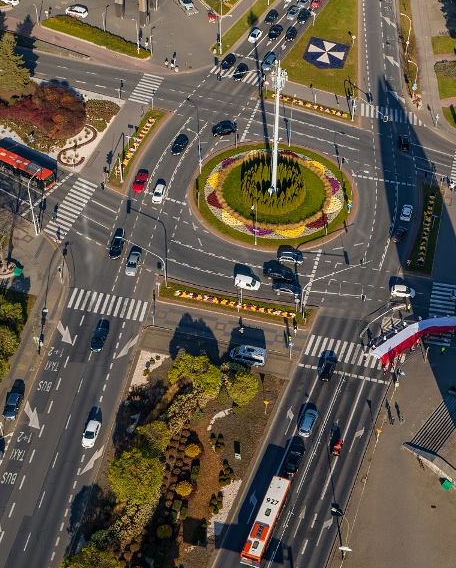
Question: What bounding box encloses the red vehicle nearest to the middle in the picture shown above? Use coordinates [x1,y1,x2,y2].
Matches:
[133,171,148,193]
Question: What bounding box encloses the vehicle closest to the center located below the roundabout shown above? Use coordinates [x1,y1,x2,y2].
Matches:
[230,271,263,292]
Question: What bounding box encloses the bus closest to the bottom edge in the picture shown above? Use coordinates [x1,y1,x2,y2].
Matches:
[244,477,299,568]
